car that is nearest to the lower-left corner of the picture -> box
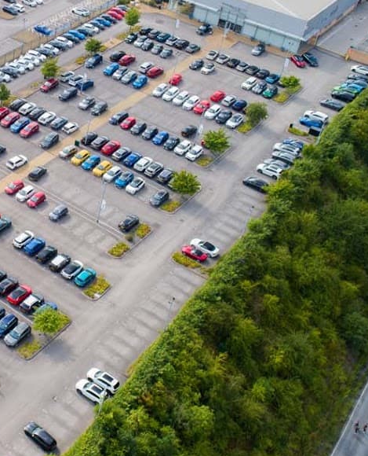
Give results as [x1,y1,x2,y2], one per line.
[23,421,59,453]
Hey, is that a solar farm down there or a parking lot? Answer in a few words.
parking lot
